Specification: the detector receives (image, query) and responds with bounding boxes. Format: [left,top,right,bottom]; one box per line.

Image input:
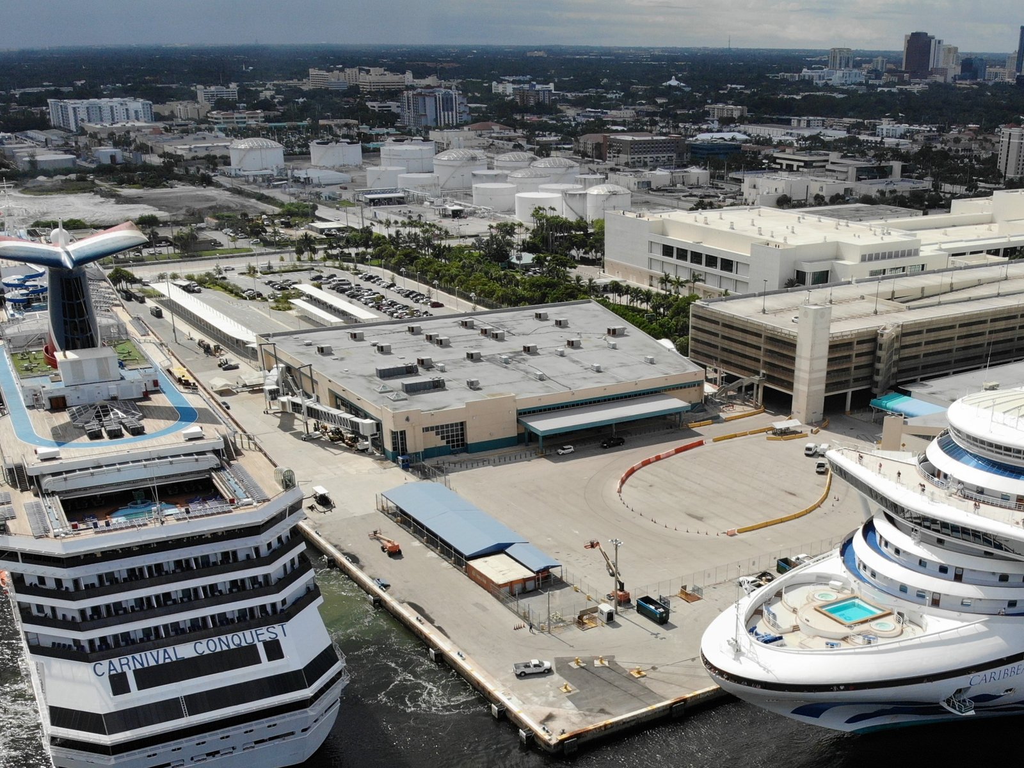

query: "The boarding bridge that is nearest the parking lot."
[256,341,288,413]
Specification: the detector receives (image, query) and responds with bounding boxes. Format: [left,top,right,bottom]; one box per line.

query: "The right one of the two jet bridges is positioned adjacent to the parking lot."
[273,363,375,453]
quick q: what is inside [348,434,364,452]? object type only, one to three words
work vehicle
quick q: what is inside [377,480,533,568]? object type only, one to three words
shed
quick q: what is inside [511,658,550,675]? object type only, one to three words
vehicle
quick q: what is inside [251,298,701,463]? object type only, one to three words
building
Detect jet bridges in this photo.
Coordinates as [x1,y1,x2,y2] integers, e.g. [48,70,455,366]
[256,341,288,413]
[273,363,375,453]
